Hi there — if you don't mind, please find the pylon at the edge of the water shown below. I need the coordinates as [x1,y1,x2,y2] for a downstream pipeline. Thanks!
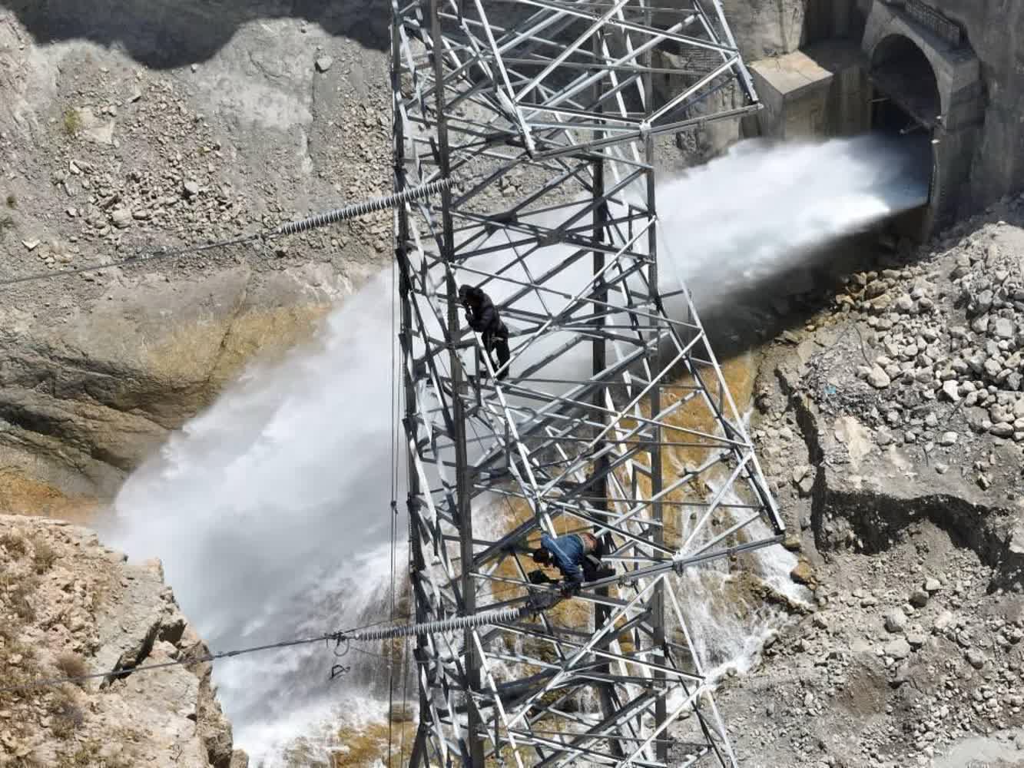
[383,0,793,768]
